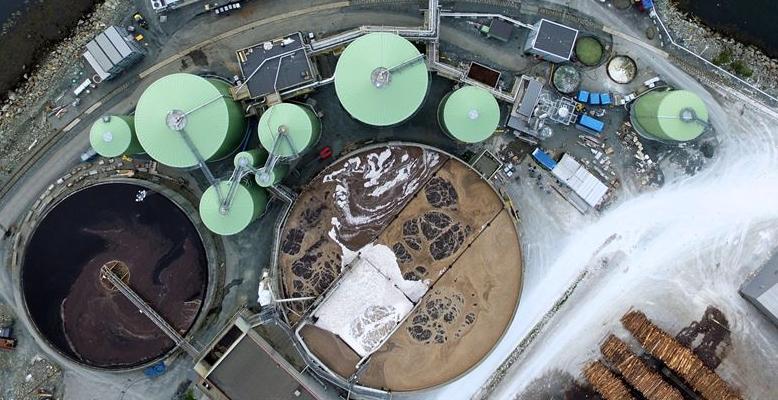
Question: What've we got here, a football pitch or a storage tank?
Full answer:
Of the two, only a storage tank appears.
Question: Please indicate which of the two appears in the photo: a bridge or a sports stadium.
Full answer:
There is a bridge in the scene.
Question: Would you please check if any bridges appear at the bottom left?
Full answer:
Yes, at the bottom left there is a bridge.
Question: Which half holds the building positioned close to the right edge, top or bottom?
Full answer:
The building positioned close to the right edge is in the bottom half of the image.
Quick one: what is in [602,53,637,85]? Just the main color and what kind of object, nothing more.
white storage tank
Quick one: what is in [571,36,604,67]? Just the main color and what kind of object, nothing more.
green storage tank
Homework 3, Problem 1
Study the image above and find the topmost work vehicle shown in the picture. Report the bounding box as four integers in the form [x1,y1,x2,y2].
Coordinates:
[135,11,153,30]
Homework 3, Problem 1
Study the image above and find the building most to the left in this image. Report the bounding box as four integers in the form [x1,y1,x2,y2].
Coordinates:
[84,25,145,81]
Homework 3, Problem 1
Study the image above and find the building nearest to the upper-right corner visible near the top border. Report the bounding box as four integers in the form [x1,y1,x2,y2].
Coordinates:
[525,19,578,62]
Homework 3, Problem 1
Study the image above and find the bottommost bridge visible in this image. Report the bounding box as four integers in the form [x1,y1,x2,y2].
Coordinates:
[99,262,207,364]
